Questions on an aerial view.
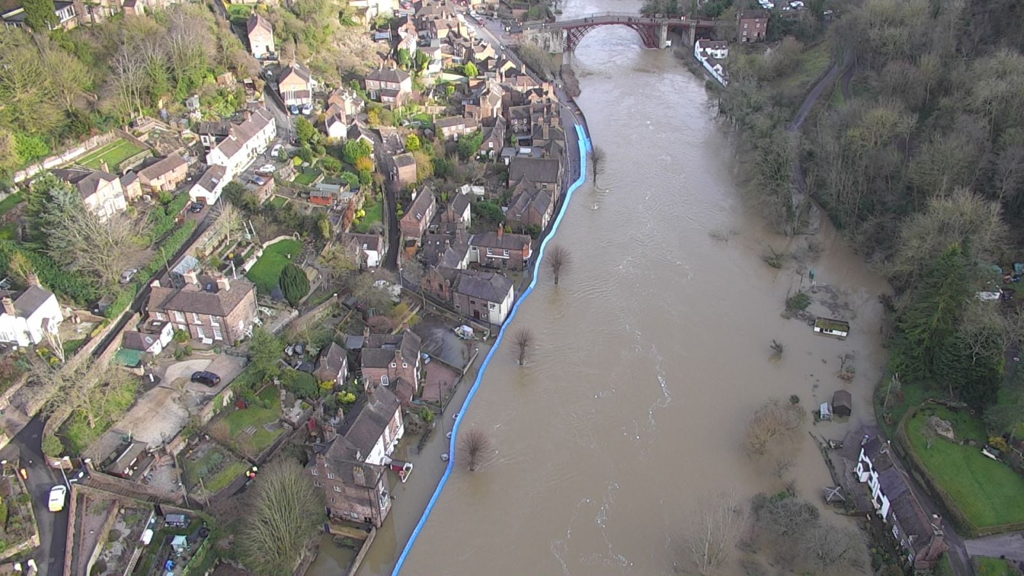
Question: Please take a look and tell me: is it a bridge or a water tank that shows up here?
bridge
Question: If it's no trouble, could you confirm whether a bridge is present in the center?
No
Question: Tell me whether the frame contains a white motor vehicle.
Yes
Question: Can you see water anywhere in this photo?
Yes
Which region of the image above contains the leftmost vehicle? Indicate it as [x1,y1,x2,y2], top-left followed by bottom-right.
[38,482,71,511]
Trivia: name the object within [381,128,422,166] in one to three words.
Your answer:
building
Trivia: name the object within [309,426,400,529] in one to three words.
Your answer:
house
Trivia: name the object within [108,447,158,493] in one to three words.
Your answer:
shed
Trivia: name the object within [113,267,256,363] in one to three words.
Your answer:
house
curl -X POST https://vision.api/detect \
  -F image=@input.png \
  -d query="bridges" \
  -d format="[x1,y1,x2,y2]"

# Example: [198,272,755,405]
[517,10,733,60]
